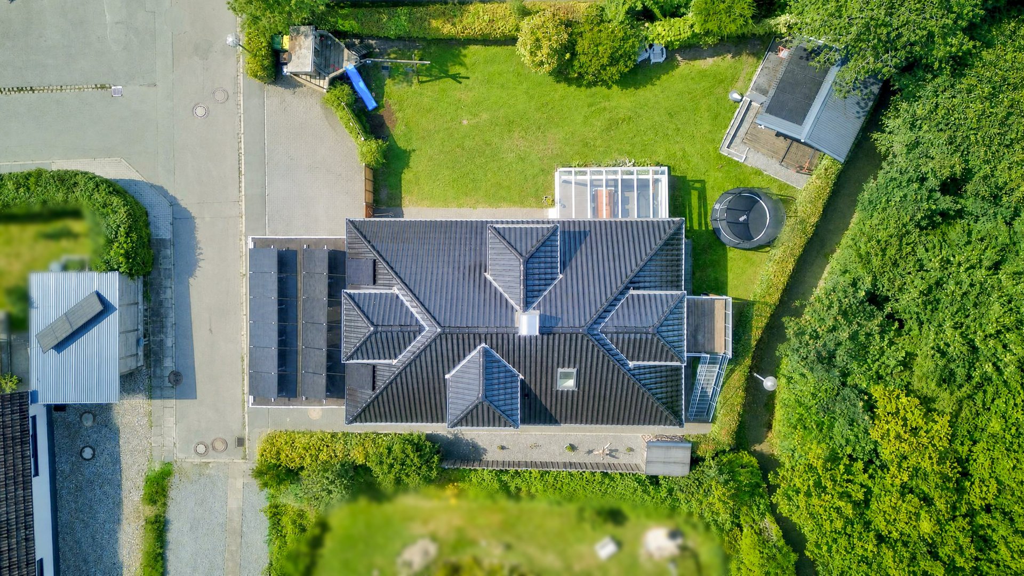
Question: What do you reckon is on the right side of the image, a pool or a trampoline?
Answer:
trampoline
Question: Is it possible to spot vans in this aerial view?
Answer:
No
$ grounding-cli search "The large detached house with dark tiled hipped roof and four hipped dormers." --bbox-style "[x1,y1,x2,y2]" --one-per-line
[341,216,690,430]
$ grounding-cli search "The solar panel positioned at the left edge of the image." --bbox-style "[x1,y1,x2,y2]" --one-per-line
[36,291,108,355]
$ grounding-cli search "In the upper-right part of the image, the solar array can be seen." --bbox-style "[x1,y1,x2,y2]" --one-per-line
[769,48,826,127]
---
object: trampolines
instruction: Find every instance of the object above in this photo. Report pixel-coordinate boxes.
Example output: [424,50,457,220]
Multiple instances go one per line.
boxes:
[709,185,784,249]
